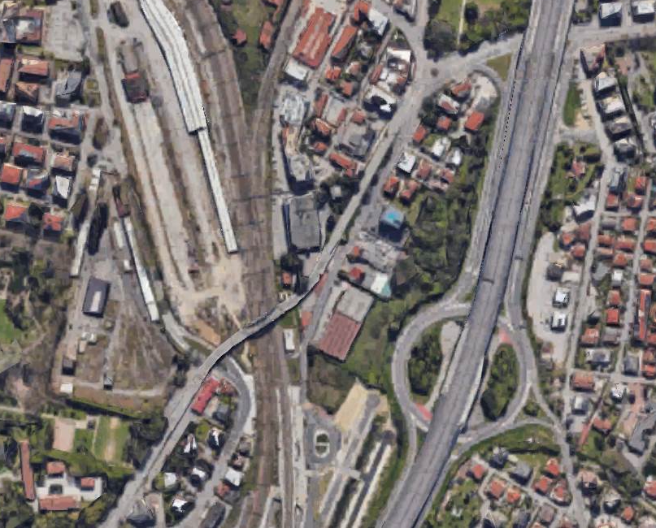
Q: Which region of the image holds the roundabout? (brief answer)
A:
bottom right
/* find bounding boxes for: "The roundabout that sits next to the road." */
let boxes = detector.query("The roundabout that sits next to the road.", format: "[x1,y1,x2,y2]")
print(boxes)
[389,249,566,528]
